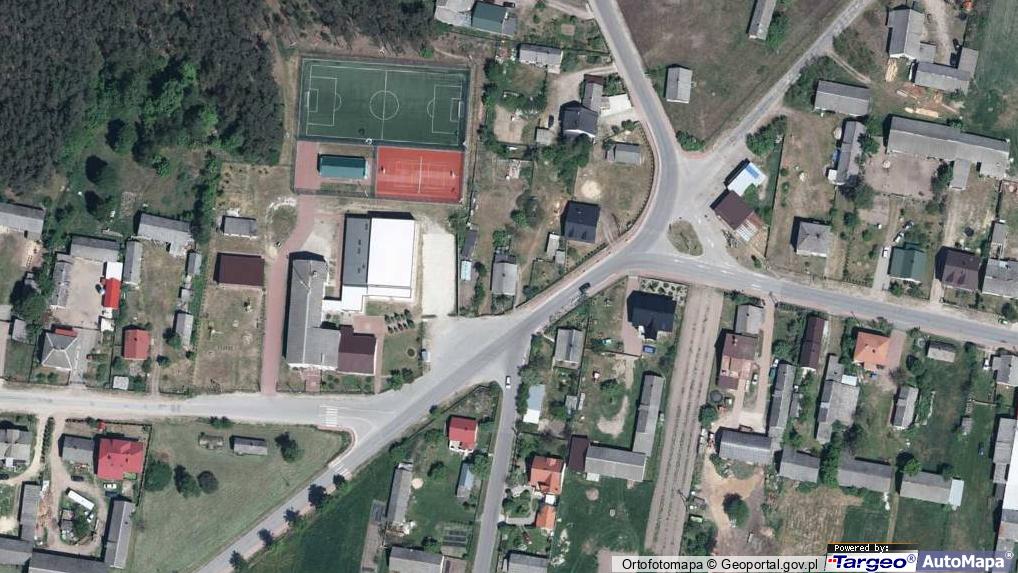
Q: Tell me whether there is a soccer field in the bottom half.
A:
No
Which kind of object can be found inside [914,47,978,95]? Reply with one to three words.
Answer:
barn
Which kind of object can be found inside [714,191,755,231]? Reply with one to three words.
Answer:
building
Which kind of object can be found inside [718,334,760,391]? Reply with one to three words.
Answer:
house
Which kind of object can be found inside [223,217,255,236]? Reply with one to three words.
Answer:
shed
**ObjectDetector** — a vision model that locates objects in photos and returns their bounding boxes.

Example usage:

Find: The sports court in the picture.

[376,147,464,202]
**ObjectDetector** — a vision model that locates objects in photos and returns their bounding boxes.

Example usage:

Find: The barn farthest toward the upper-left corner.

[0,204,44,241]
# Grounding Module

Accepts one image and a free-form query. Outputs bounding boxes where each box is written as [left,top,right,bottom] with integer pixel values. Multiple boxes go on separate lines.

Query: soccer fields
[297,58,470,146]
